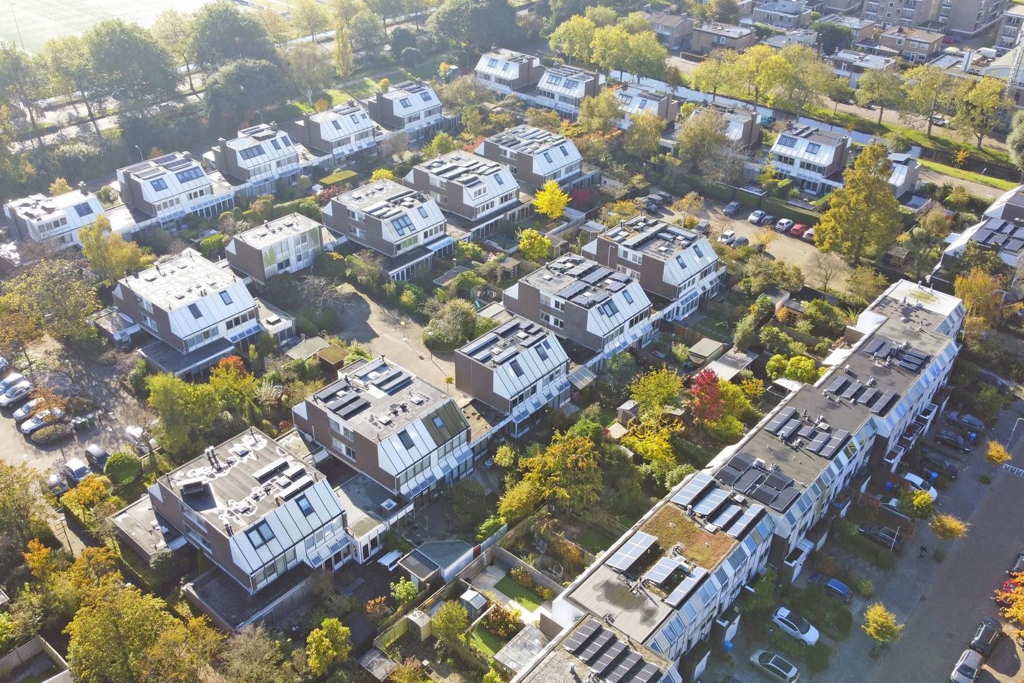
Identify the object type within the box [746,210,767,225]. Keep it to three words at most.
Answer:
car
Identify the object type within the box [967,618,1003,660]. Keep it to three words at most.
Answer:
car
